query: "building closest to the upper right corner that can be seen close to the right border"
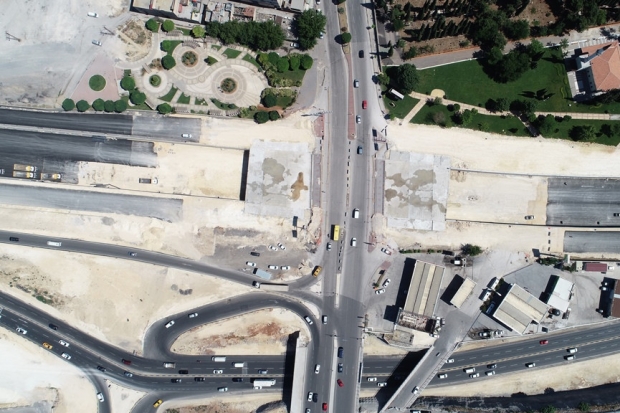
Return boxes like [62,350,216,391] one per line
[572,41,620,98]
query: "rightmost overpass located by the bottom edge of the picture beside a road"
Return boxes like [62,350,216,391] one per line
[378,332,464,413]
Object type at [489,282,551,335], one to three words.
building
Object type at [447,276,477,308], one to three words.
shed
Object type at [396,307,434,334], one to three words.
building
